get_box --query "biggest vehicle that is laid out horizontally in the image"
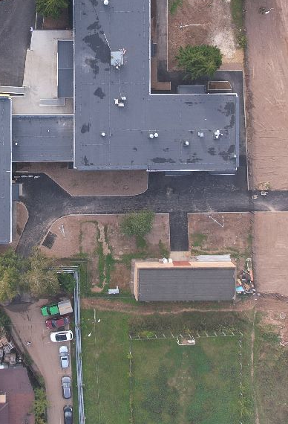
[40,300,73,317]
